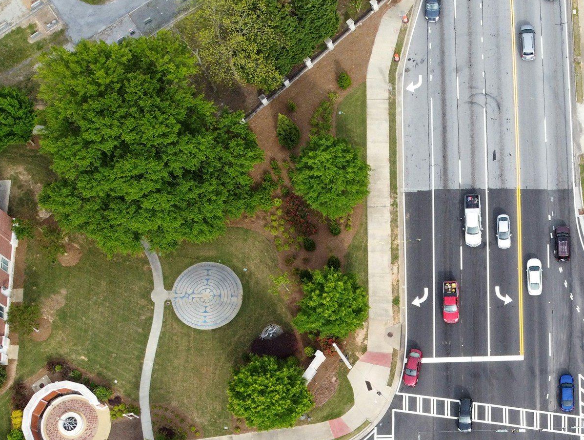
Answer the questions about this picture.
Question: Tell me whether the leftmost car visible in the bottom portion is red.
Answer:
Yes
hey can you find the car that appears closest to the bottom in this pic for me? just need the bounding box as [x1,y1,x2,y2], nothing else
[455,397,474,432]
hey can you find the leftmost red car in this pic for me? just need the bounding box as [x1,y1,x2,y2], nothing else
[402,347,423,388]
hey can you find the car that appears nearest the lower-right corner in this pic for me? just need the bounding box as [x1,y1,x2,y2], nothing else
[558,374,577,411]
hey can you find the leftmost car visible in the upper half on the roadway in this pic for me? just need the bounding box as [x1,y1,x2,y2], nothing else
[423,0,442,23]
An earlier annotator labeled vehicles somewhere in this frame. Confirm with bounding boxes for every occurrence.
[555,223,573,261]
[455,397,474,432]
[402,347,423,388]
[526,258,545,296]
[462,192,483,247]
[518,24,538,61]
[558,374,577,411]
[441,280,460,323]
[423,0,442,23]
[495,213,512,249]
